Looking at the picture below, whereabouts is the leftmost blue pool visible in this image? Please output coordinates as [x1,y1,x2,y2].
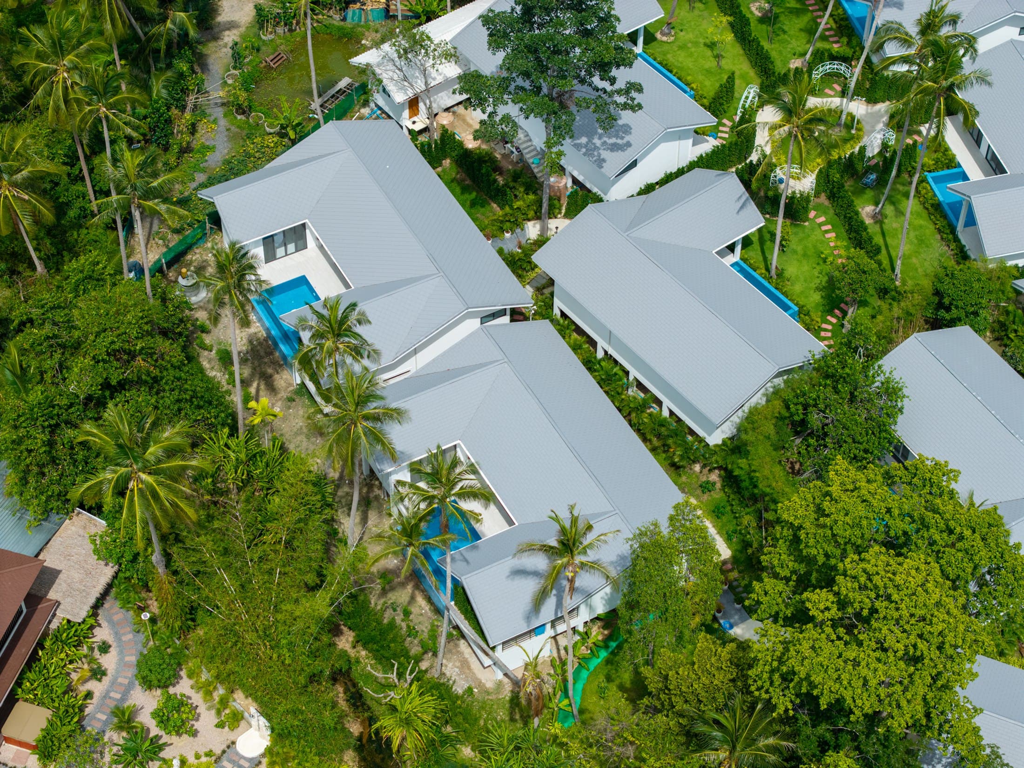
[251,273,322,392]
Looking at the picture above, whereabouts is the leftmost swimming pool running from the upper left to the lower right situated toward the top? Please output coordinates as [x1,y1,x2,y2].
[637,53,702,106]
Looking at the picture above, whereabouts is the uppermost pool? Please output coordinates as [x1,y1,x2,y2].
[824,0,878,66]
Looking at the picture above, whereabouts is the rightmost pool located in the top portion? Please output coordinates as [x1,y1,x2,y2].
[916,166,977,255]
